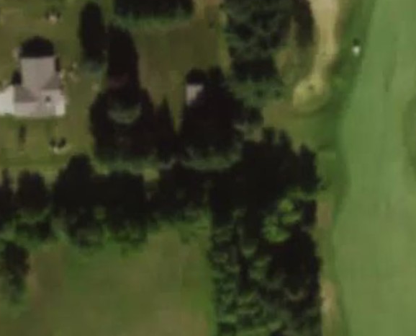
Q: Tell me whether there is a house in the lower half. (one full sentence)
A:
No, I can find no house in the lower half.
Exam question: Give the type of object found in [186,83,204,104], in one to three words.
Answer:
shed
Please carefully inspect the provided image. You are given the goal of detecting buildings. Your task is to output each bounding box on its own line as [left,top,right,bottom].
[12,58,64,114]
[186,83,204,104]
